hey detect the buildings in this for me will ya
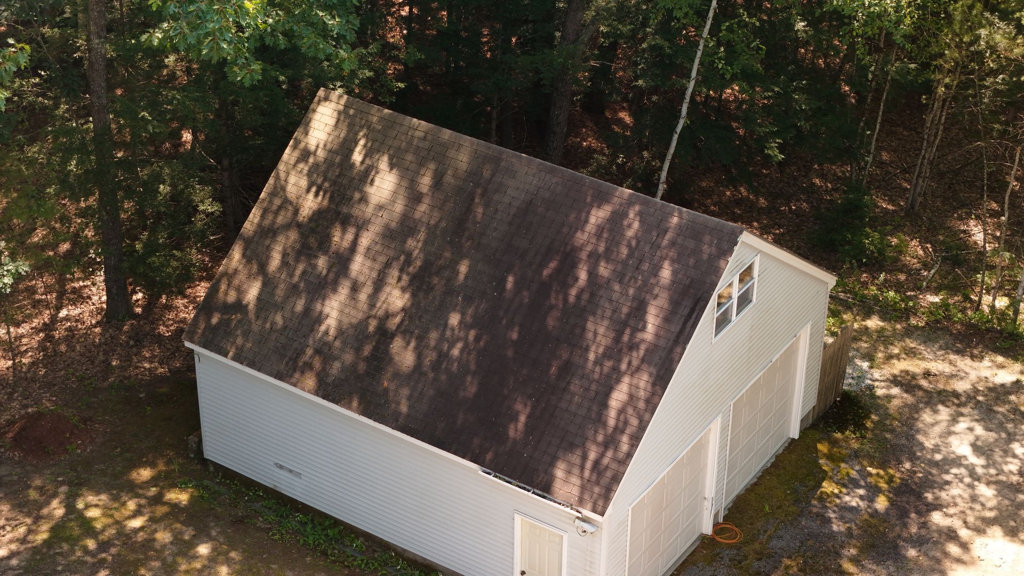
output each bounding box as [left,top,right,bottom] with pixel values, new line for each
[181,86,838,576]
